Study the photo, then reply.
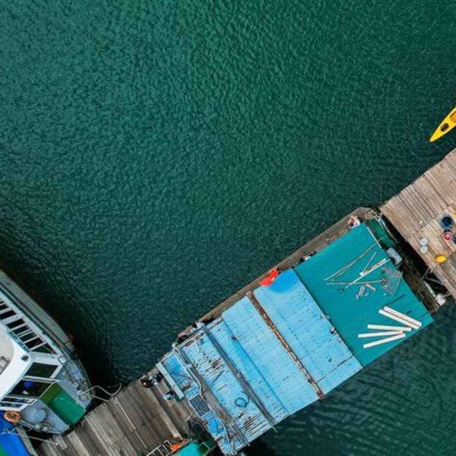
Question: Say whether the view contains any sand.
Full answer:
No, sand can't be seen anywhere here.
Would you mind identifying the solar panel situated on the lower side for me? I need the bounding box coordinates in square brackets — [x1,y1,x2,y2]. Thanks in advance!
[191,393,209,417]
